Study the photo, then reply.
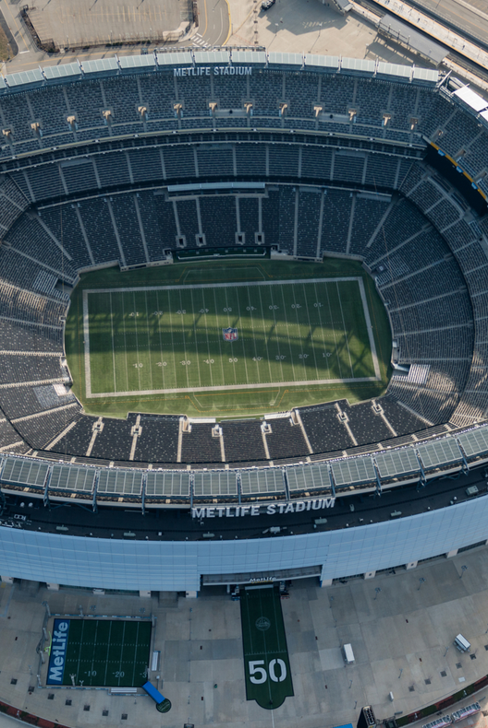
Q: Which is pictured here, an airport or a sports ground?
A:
sports ground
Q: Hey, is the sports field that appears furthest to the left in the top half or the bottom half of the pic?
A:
bottom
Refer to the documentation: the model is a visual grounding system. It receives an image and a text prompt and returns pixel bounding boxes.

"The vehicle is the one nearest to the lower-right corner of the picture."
[451,699,486,724]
